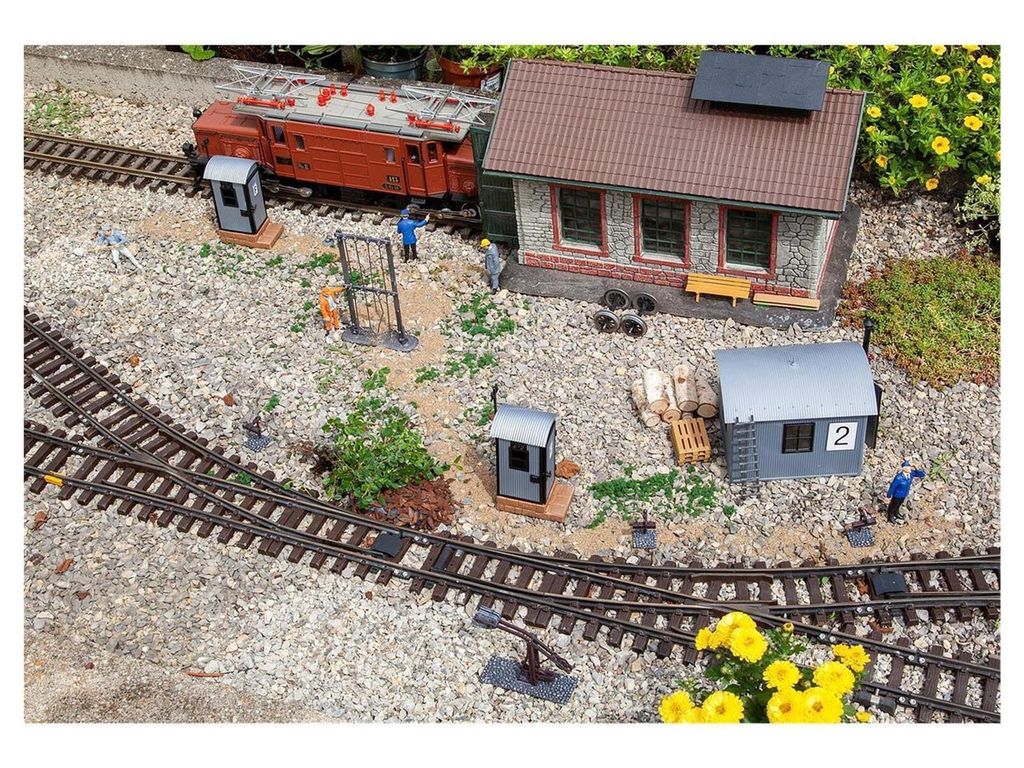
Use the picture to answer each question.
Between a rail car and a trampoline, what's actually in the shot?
rail car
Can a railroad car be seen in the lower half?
No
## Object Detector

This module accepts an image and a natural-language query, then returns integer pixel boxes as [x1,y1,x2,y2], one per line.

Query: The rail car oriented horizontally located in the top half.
[191,65,499,223]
